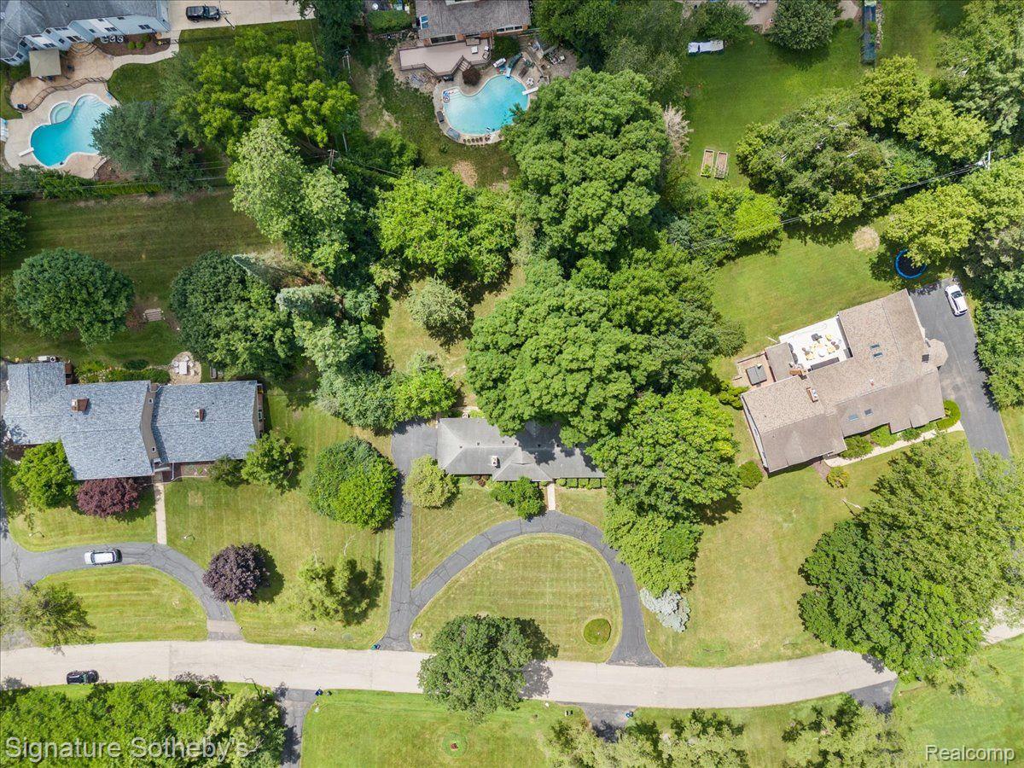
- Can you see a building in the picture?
Yes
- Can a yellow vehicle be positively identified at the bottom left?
No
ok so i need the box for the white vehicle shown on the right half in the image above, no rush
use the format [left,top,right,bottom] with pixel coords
[943,282,968,318]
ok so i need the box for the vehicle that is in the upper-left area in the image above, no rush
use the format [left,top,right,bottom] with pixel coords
[185,3,223,23]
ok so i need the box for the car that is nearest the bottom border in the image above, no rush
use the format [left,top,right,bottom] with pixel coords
[66,669,100,686]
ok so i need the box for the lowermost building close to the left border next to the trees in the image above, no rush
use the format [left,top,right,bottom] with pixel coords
[3,360,263,480]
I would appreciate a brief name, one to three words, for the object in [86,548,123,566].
car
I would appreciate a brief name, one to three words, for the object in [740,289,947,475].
house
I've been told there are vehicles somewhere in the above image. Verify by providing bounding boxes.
[943,282,968,318]
[66,669,100,686]
[86,548,123,566]
[185,3,223,23]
